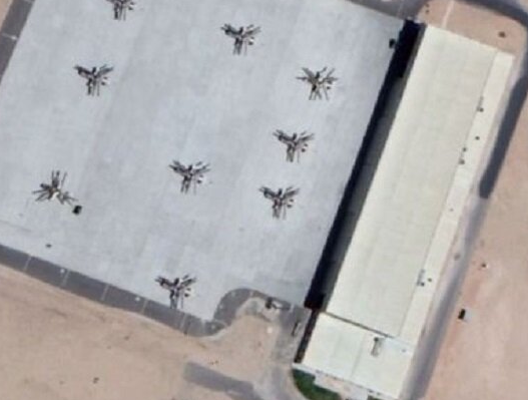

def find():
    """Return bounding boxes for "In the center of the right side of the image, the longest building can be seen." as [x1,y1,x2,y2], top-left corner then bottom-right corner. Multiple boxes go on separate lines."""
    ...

[314,22,514,342]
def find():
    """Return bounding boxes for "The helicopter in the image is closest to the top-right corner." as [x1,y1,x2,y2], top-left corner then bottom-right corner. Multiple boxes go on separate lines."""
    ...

[303,69,337,100]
